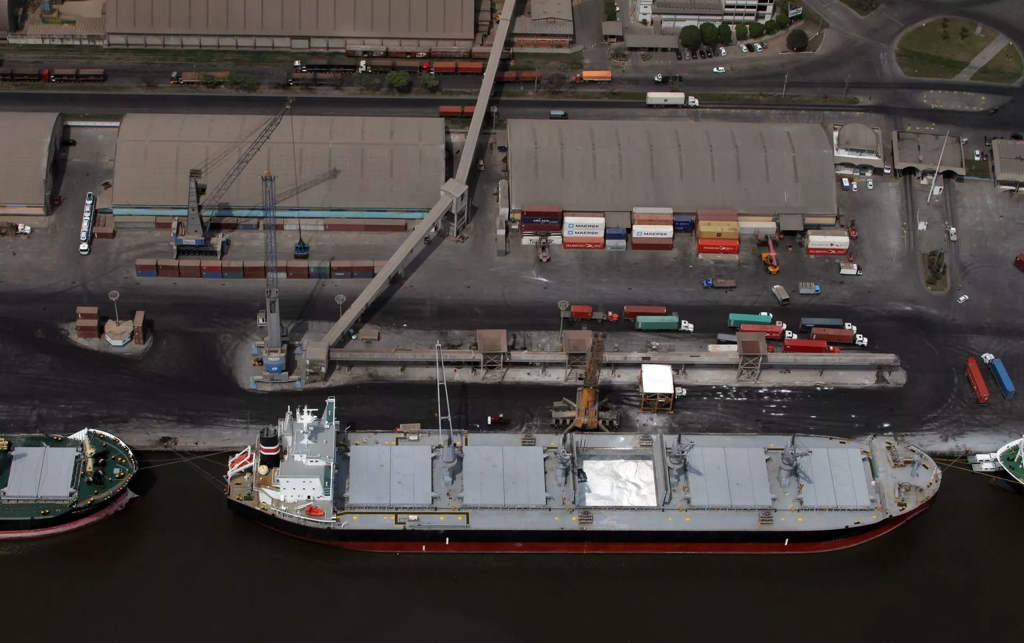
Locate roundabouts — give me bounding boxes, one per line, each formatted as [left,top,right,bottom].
[896,15,1024,83]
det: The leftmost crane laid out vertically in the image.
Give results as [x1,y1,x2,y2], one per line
[249,170,303,384]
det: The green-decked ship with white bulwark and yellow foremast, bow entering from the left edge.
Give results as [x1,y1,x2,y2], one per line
[0,429,143,537]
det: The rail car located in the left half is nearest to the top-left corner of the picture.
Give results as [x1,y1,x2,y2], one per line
[343,45,383,59]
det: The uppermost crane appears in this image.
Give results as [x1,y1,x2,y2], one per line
[167,98,293,259]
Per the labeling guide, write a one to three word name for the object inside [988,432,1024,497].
ship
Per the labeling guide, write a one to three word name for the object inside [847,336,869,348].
vehicle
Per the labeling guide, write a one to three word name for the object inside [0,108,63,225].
building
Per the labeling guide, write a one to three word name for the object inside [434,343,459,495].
crane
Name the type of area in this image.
port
